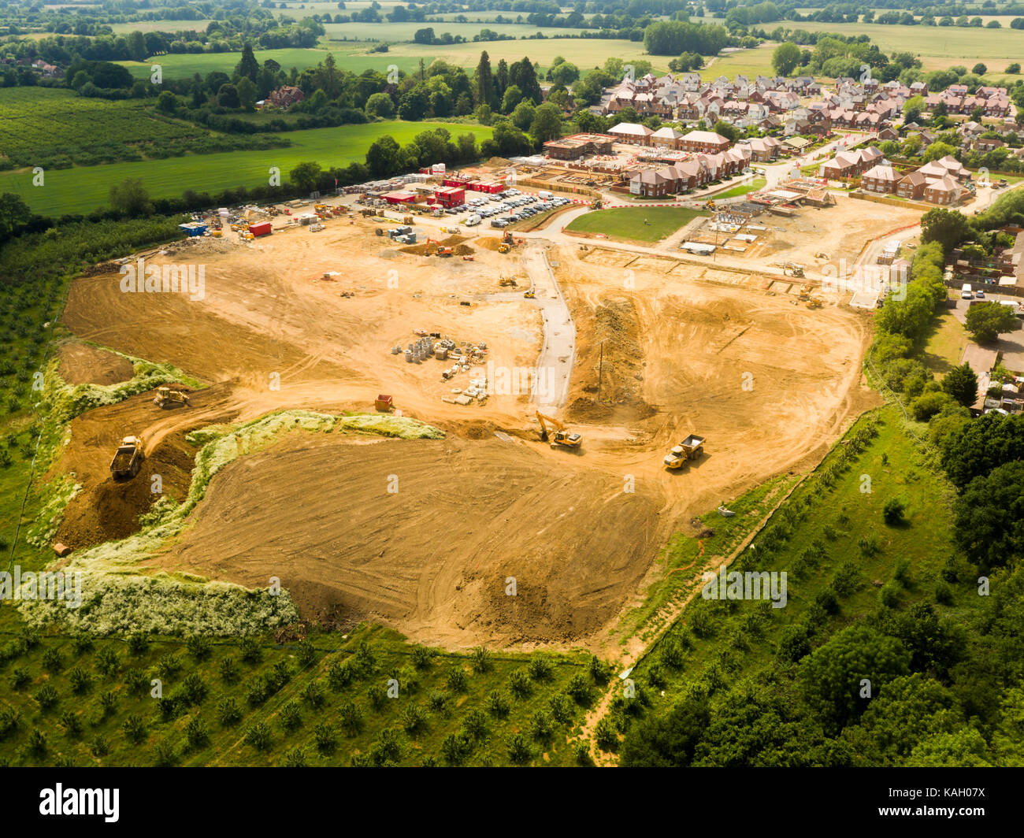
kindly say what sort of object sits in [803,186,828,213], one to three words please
house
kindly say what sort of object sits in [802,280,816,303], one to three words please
work vehicle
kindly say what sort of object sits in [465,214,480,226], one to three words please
vehicle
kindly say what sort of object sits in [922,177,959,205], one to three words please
house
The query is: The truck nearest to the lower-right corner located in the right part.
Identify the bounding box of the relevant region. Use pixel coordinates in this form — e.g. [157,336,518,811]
[663,437,711,472]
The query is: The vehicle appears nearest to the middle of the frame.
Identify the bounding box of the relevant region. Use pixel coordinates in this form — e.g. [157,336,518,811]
[528,408,583,453]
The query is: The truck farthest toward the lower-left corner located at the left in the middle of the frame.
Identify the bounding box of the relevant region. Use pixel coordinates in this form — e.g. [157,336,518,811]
[108,444,142,486]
